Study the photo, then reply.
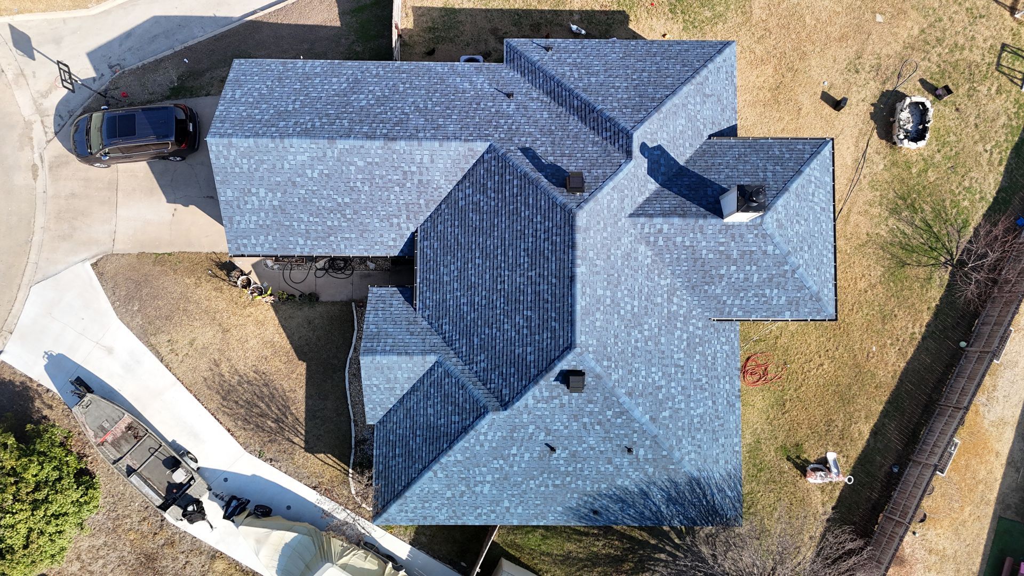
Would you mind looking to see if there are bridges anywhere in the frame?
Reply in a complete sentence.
No, I can see no bridge in this picture.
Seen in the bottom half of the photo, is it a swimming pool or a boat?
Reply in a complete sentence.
There is a boat in the bottom half of the photo.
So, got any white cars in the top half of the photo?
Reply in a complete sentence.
No, there is no white car in the top half of the photo.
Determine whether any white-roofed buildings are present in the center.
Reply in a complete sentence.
No, looking in the center, there is no white-roofed building.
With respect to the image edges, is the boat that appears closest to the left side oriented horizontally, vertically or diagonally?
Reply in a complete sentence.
The boat that appears closest to the left side runs diagonally in the image.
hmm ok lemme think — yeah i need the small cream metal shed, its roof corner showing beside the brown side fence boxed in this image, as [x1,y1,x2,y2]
[483,543,558,576]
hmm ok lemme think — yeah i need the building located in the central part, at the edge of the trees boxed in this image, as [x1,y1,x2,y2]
[205,39,840,529]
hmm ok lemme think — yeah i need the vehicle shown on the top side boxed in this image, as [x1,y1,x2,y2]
[73,102,204,166]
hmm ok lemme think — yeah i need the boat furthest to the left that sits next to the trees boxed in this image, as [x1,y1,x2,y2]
[66,380,218,529]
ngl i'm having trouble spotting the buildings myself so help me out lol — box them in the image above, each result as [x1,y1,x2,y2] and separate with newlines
[483,543,558,576]
[205,39,840,529]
